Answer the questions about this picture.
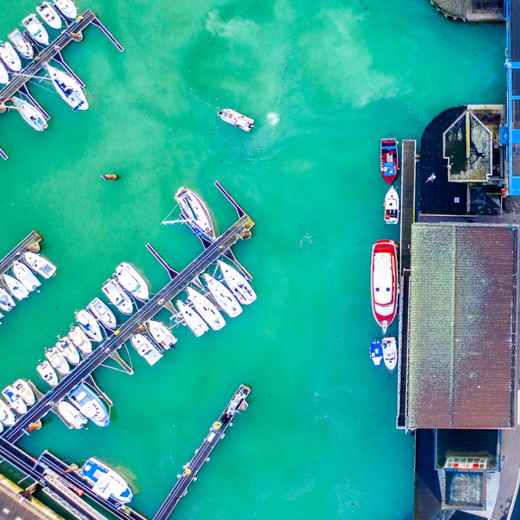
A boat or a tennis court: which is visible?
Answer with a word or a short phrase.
boat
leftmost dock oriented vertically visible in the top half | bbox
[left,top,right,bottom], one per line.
[402,140,417,271]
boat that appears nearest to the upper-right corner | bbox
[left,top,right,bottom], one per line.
[381,138,399,184]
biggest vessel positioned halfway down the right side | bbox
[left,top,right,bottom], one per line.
[370,238,402,338]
